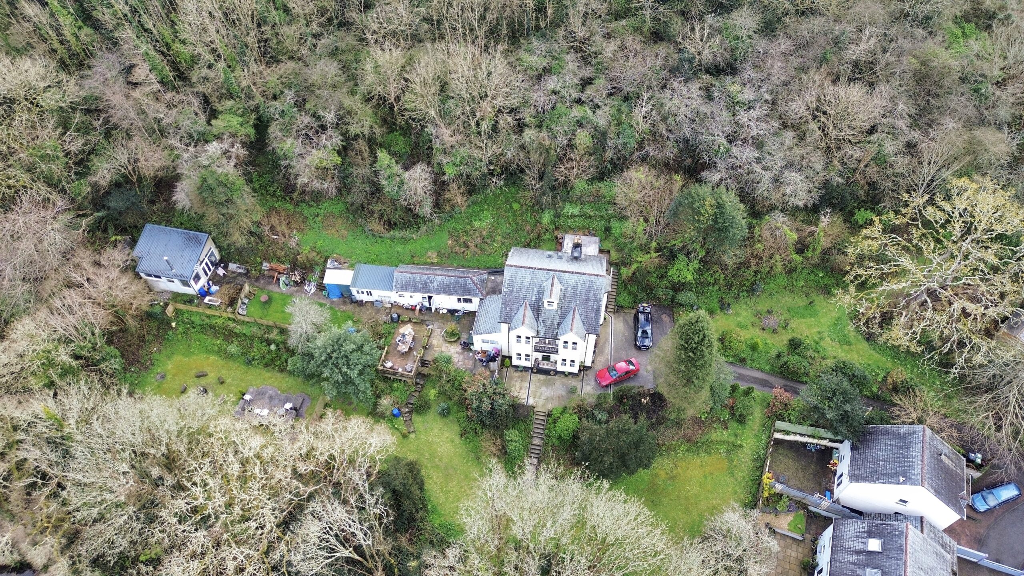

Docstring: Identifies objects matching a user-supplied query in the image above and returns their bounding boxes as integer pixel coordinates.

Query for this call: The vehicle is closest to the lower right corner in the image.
[967,482,1024,516]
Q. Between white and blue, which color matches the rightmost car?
blue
